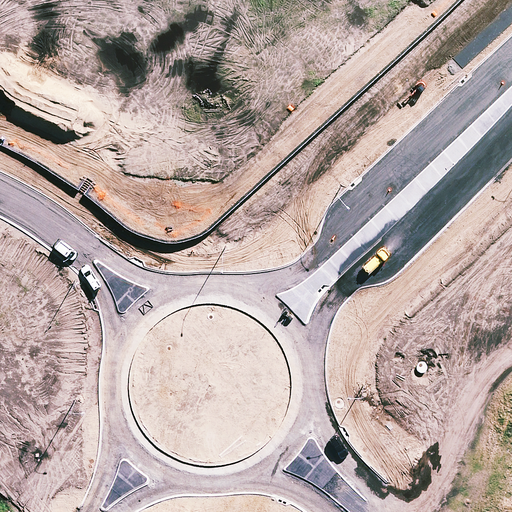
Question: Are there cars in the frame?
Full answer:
Yes, looking at the shot, I can spot a car.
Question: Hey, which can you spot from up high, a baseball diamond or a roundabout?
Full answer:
Of the two, only a roundabout appears.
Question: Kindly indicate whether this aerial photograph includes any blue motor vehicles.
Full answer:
No, I can't see a single blue motor vehicle in this photo.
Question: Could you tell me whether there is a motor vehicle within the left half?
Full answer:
Yes, a motor vehicle is visible within the left half.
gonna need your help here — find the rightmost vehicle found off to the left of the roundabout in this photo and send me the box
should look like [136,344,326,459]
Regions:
[81,265,100,293]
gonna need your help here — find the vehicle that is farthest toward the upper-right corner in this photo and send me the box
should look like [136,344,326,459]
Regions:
[396,80,430,109]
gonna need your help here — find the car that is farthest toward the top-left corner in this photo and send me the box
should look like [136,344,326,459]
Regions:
[53,241,78,263]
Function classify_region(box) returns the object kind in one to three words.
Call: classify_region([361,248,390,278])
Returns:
truck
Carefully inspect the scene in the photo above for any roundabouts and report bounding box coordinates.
[101,274,322,495]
